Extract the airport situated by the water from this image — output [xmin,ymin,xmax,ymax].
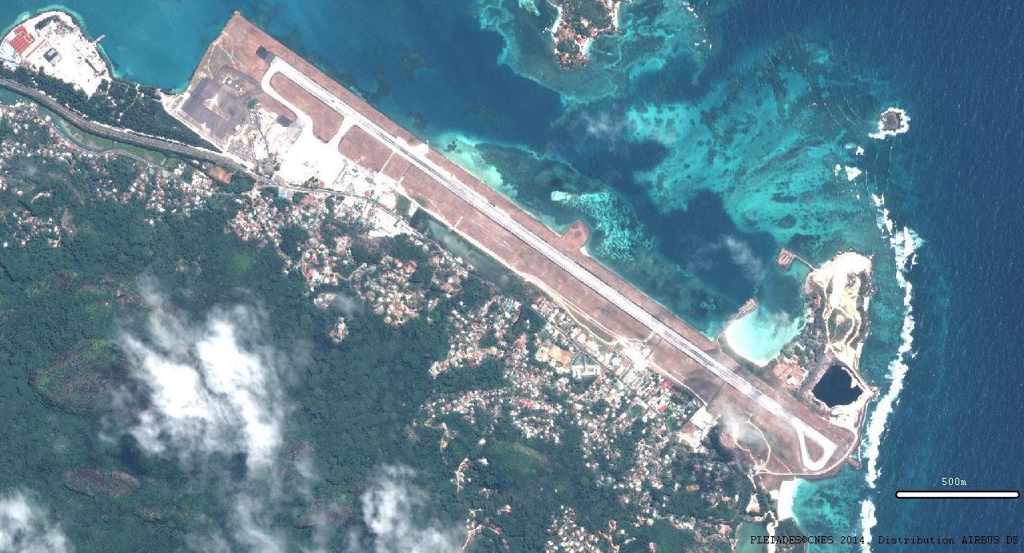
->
[181,17,857,477]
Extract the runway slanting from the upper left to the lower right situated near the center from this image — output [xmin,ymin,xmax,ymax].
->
[272,58,838,454]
